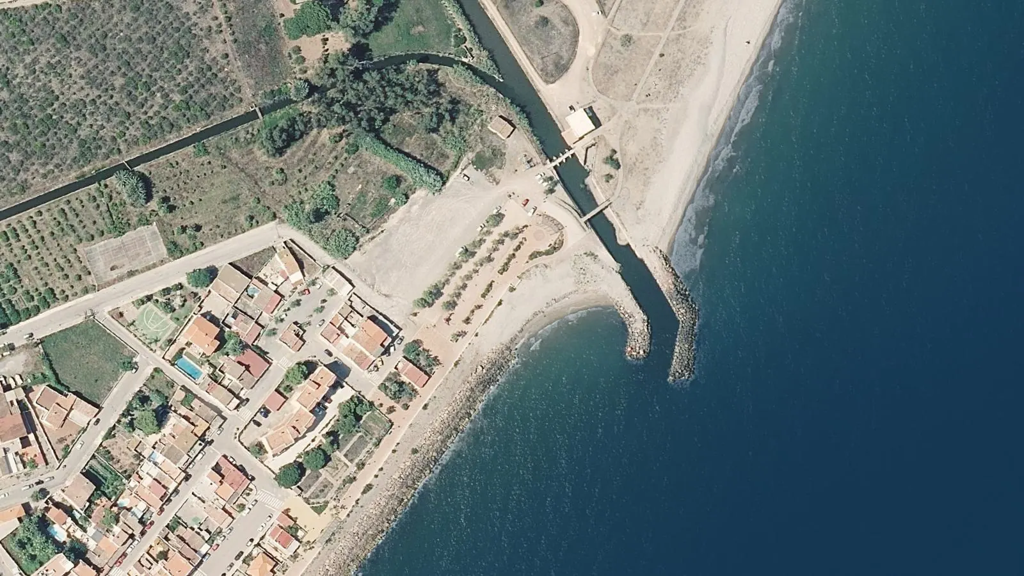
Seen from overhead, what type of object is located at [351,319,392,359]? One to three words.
house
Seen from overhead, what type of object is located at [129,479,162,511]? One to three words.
house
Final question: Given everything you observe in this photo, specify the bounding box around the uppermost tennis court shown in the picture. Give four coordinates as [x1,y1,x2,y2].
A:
[85,224,166,285]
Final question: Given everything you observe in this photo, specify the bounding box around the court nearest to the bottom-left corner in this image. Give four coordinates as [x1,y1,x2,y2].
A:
[134,303,177,347]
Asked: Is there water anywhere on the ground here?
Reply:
Yes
